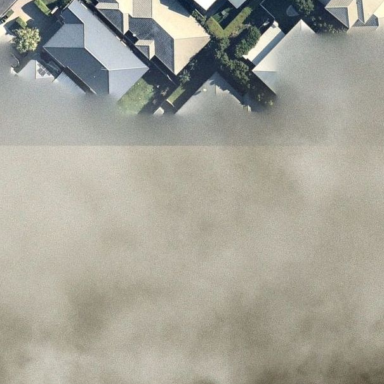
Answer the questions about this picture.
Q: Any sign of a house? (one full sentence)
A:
Yes, the photo shows a house.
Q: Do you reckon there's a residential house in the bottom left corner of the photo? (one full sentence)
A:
No, I can find no residential house in the bottom left corner of the photo.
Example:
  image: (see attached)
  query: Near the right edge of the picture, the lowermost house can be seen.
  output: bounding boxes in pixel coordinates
[253,20,370,139]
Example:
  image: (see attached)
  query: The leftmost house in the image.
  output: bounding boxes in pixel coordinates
[2,61,69,127]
